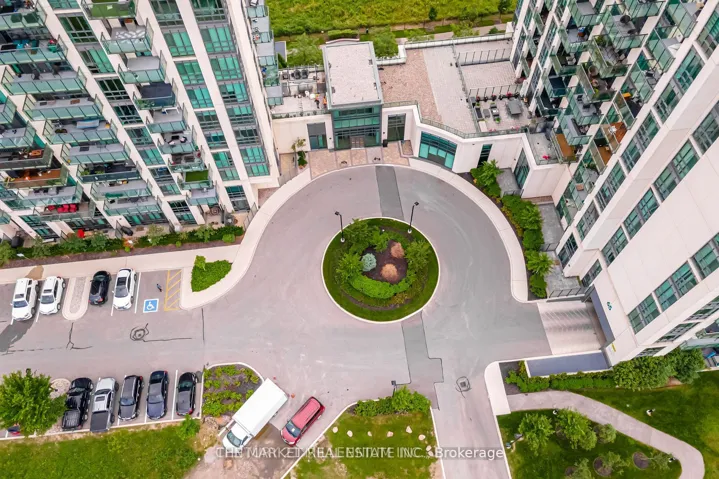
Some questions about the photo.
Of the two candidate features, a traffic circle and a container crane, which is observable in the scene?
traffic circle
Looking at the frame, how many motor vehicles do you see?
12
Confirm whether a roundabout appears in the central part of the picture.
Yes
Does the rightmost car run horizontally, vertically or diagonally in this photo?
diagonally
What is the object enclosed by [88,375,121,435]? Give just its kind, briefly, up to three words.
truck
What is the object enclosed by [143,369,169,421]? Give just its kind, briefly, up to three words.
car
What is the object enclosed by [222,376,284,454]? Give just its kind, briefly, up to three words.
truck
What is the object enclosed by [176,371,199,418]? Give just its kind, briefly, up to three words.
car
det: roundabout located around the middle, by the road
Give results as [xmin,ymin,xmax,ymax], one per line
[322,218,440,324]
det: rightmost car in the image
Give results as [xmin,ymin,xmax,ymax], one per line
[275,391,320,441]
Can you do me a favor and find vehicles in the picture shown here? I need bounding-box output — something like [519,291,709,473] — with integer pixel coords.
[112,270,137,313]
[91,270,113,309]
[143,369,169,421]
[60,376,93,436]
[4,416,29,437]
[222,376,284,454]
[176,371,199,418]
[116,374,144,424]
[35,277,63,319]
[10,280,39,323]
[88,375,121,435]
[275,391,320,441]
